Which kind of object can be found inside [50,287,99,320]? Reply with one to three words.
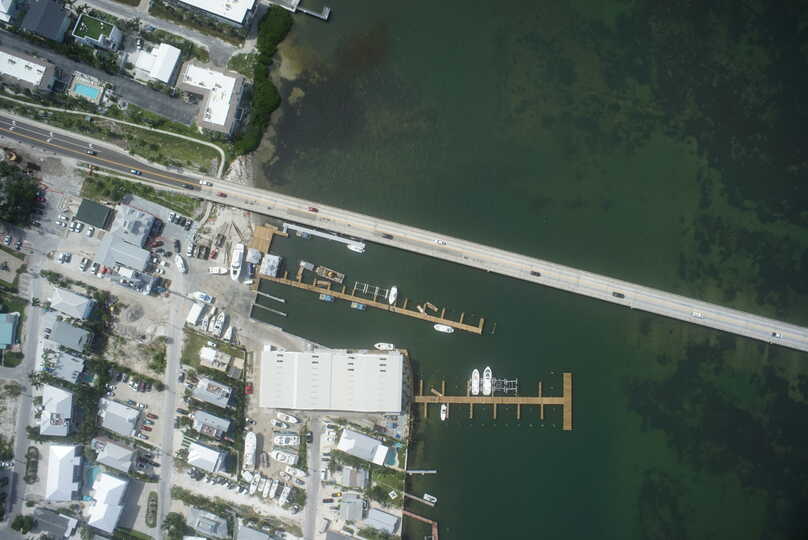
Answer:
house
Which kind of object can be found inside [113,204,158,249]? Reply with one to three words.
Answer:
building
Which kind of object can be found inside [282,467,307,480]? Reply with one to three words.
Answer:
boat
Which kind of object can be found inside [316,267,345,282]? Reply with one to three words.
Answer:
ship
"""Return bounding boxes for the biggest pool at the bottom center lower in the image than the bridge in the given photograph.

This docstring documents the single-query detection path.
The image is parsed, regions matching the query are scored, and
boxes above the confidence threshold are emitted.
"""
[384,447,399,467]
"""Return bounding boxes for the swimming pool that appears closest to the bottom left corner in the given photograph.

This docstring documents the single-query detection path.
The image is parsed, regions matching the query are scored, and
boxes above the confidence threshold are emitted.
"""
[86,462,104,490]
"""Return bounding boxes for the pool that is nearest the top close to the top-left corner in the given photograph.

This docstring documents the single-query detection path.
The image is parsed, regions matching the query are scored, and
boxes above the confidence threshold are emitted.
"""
[68,73,108,105]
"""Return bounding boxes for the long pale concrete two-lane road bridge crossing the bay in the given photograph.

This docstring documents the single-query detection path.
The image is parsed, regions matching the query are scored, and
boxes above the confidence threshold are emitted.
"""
[203,176,808,351]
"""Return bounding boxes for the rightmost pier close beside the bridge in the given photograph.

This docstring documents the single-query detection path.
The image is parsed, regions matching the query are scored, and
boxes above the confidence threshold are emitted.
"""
[414,373,572,431]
